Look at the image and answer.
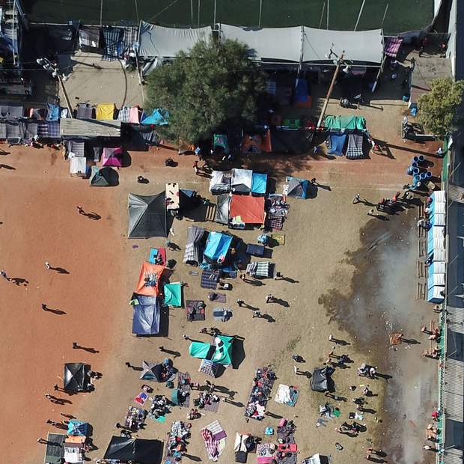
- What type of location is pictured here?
sports ground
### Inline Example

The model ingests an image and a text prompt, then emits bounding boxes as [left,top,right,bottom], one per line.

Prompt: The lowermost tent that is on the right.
[311,367,332,393]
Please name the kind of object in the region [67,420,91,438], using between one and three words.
tent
